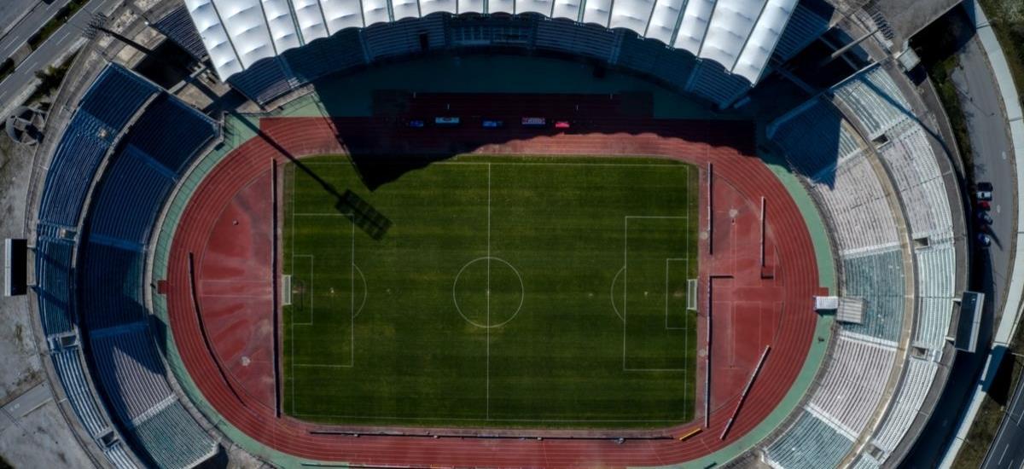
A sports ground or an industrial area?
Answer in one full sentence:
This looks like a sports ground.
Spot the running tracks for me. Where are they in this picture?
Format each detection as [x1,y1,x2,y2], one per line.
[159,92,829,469]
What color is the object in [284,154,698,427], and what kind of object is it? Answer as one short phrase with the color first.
green soccer field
